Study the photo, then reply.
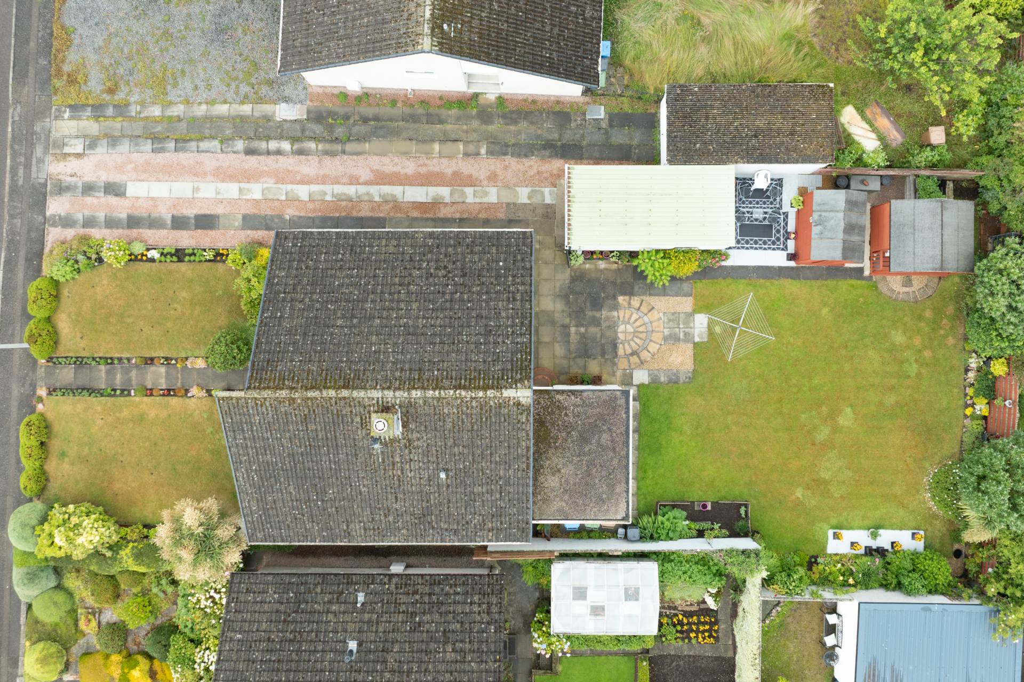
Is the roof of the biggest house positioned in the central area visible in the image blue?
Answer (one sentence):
No, from above the roof of the biggest house positioned in the central area looks gray.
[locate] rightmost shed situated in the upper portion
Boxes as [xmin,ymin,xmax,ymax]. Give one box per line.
[871,196,975,274]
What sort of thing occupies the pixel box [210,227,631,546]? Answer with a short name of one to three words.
house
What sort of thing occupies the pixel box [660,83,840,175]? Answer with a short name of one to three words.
building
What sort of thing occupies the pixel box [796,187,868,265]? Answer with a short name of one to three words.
shed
